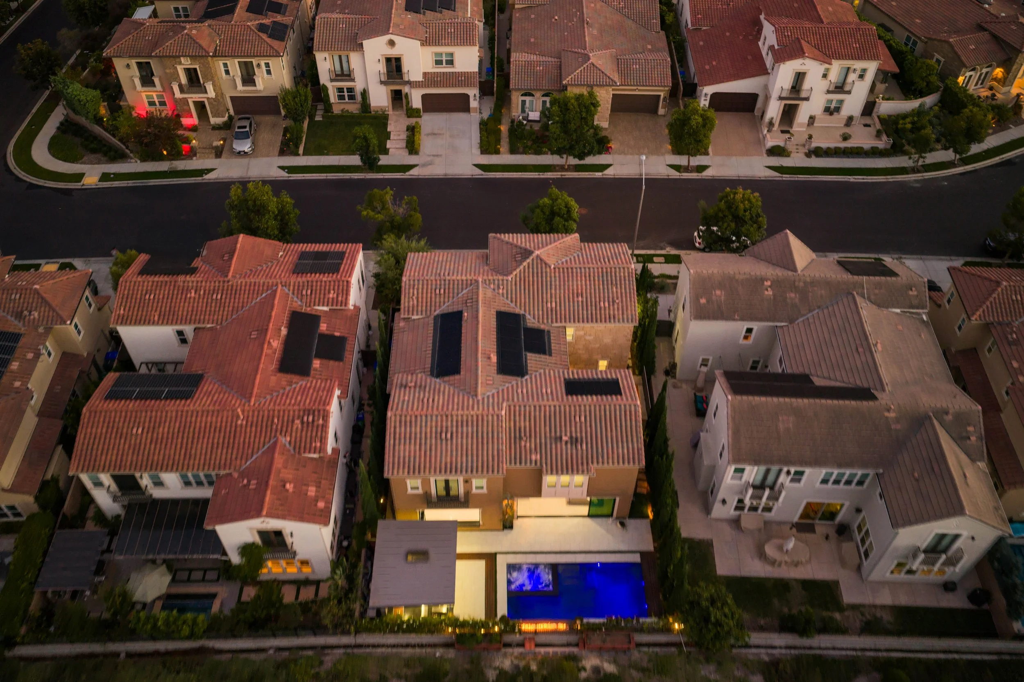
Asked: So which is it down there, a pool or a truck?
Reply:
pool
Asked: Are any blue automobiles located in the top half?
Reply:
No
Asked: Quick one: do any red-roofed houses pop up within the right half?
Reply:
Yes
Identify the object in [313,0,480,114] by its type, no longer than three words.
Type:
house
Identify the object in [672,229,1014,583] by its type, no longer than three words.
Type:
house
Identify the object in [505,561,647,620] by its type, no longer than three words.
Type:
swimming pool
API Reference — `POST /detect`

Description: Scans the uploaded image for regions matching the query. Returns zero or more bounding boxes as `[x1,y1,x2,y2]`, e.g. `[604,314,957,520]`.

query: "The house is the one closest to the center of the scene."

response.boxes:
[382,232,646,529]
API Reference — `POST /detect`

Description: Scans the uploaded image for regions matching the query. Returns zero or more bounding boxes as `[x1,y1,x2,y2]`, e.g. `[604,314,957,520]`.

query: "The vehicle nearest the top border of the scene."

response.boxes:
[229,112,254,149]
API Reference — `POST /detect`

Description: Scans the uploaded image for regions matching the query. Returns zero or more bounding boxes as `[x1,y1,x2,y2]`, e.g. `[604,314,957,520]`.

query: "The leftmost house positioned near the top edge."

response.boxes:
[102,0,323,120]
